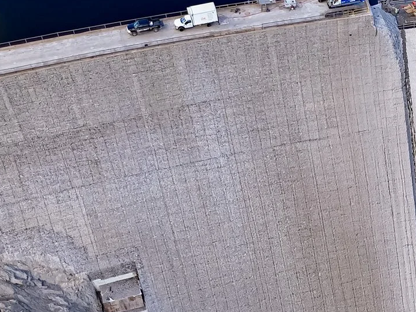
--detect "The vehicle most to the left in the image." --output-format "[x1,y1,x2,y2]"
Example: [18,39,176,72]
[126,15,162,31]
